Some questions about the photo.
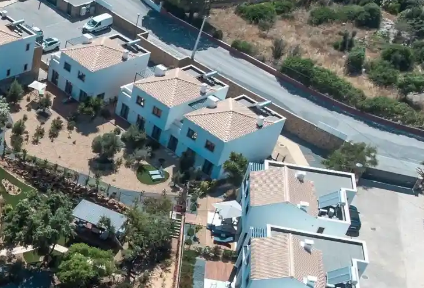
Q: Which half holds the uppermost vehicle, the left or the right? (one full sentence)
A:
The uppermost vehicle sits on the left side.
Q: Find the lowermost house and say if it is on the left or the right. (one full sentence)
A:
You can find the lowermost house on the right side of the picture.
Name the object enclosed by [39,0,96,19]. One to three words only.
house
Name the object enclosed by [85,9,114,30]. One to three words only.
vehicle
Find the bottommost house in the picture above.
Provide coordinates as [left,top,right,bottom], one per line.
[228,225,369,288]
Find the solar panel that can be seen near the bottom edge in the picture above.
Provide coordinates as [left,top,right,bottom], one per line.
[331,259,361,286]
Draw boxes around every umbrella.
[210,197,242,222]
[28,82,45,92]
